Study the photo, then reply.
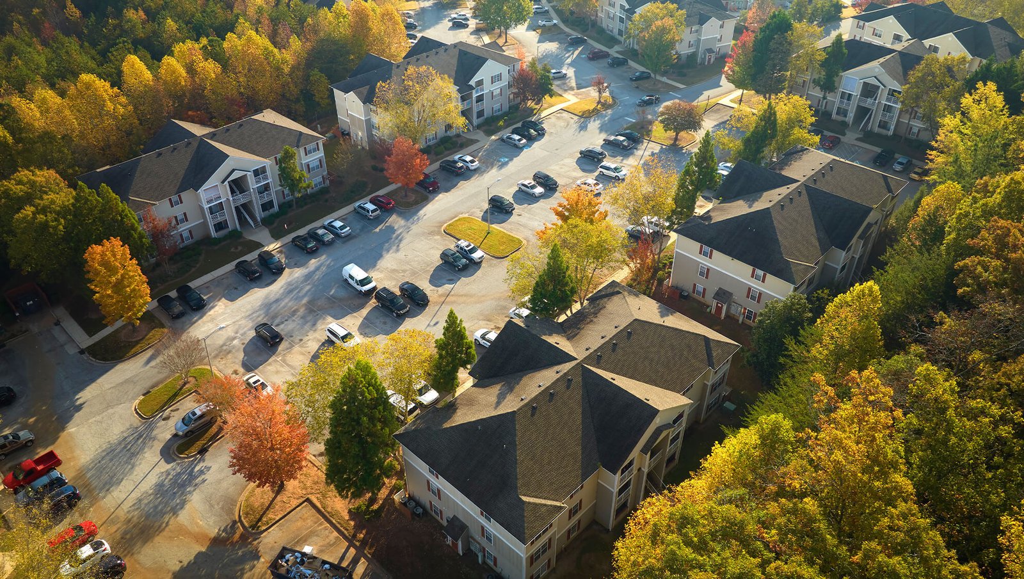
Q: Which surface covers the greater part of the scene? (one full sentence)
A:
The bulk of the photo consists of trees.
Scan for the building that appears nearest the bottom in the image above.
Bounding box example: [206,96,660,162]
[393,280,742,579]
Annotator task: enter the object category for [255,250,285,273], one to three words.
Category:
car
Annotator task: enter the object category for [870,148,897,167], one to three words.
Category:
vehicle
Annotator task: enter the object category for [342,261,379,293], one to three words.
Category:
van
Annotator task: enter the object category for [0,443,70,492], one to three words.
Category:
truck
